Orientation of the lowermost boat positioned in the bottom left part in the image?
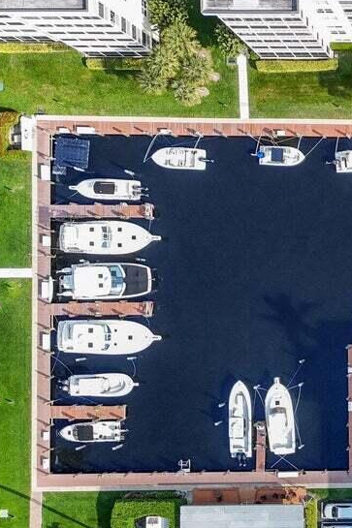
from left to right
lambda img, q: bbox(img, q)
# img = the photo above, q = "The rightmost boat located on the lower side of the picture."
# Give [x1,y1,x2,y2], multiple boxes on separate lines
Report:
[256,362,301,468]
